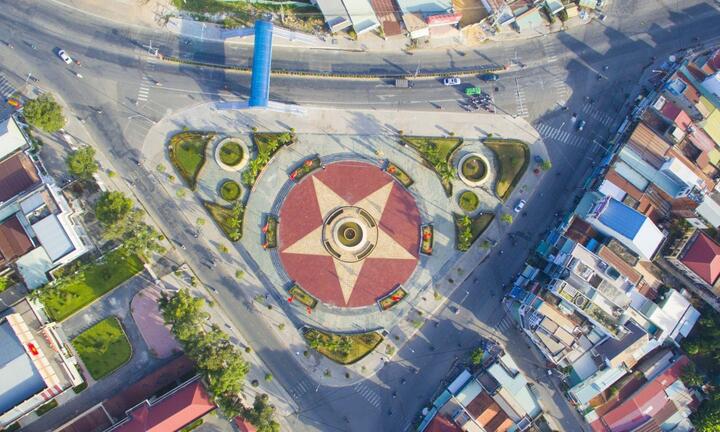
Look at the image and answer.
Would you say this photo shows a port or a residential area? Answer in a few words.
residential area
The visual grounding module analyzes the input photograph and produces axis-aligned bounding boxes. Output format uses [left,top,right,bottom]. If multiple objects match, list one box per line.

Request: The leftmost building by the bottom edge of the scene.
[0,311,68,426]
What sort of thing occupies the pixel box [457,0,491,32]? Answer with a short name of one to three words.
building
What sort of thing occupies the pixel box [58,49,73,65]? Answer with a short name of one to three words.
car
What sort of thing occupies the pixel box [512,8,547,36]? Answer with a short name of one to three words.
house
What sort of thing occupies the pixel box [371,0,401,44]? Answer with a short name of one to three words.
house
